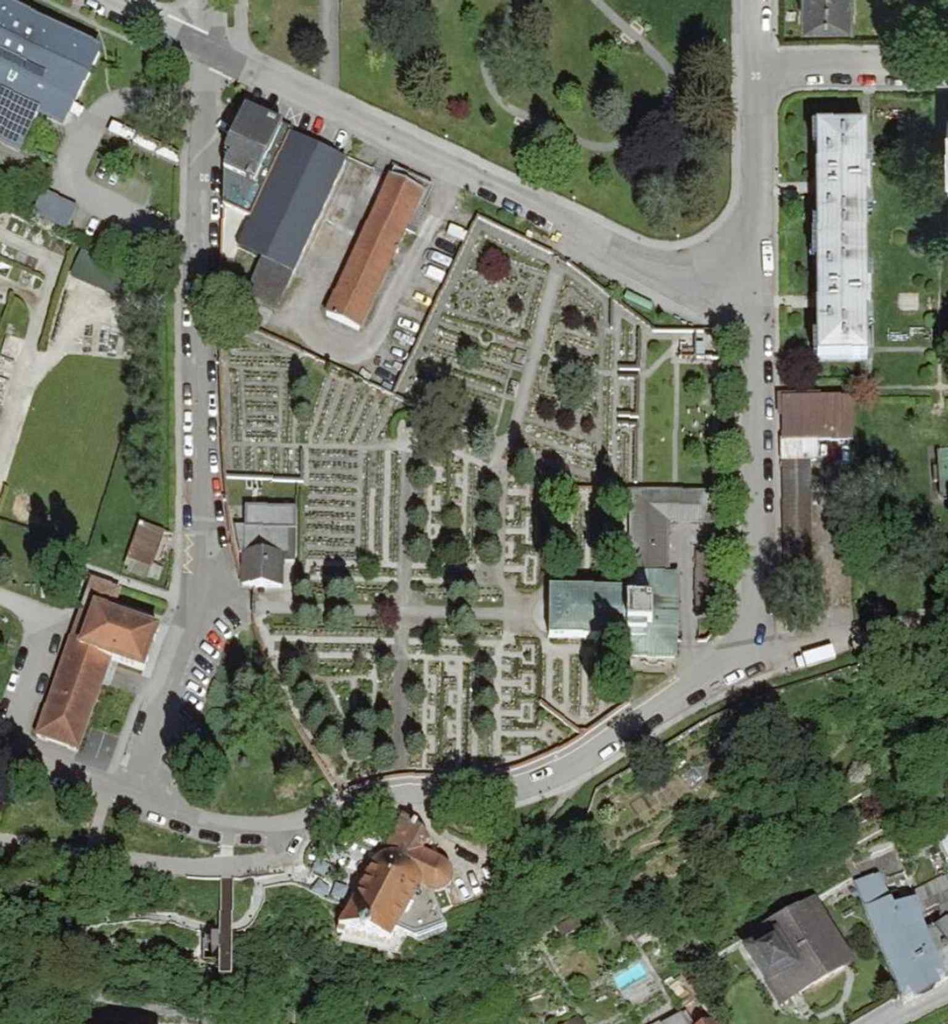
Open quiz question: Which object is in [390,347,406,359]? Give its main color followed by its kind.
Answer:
white vehicle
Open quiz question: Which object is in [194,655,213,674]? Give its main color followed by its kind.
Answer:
black car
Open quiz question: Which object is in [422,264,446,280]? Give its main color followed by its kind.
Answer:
white vehicle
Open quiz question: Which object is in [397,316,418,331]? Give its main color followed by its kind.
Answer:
white car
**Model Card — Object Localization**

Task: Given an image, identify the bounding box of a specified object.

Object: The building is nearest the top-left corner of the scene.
[0,0,101,160]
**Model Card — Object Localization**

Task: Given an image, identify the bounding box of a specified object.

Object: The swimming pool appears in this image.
[612,959,650,992]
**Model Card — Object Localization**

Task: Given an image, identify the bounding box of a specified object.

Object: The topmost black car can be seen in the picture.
[106,10,124,24]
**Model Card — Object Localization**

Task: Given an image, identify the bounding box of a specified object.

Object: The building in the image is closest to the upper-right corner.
[803,0,853,47]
